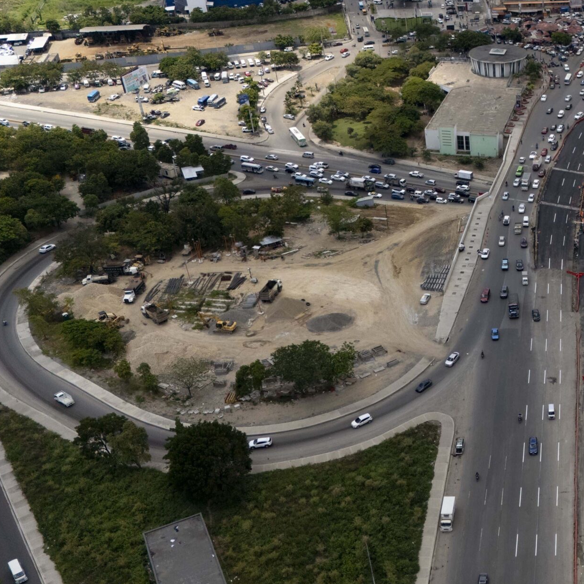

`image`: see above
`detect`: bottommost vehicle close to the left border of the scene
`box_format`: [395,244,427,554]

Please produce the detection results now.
[7,554,27,584]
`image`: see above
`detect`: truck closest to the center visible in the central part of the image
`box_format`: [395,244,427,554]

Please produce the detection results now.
[257,280,282,302]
